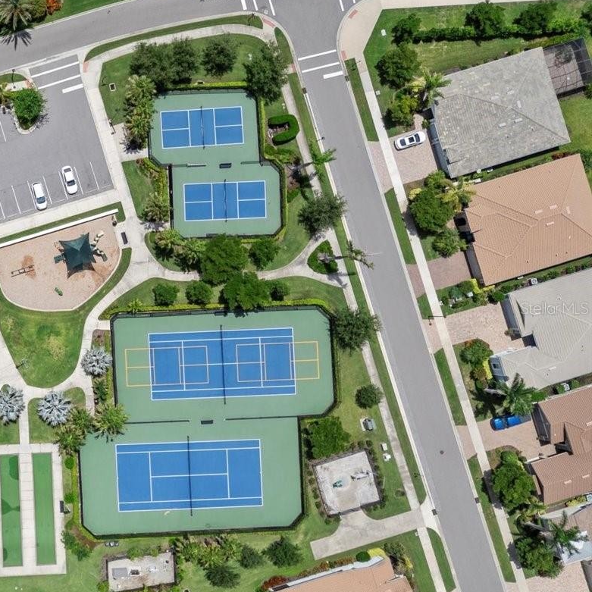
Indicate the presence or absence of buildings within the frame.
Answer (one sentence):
Yes, I can see a building in this picture.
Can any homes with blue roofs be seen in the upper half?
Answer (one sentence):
No, no home with a blue roof can be made out in the upper half.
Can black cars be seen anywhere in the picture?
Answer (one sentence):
No, no black car is visible in the view.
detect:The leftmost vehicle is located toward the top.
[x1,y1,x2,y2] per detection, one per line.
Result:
[31,182,47,212]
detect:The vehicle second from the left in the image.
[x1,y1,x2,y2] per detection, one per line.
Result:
[62,165,78,197]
